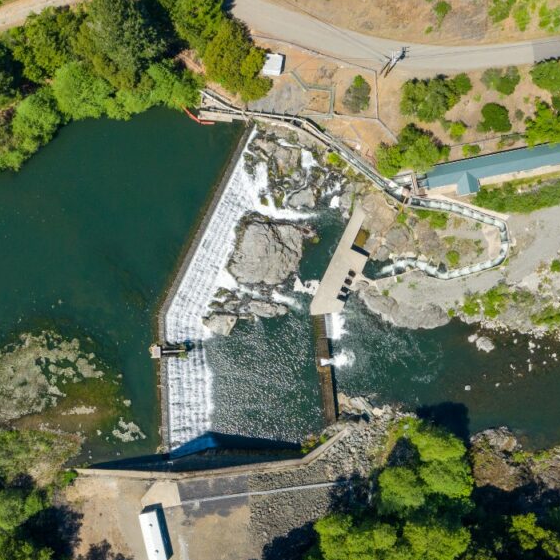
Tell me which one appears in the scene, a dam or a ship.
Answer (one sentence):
Visible in the photo is a dam.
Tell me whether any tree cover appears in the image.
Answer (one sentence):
Yes, some tree cover is visible.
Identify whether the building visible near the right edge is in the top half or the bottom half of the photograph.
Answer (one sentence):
Seen from above, the building visible near the right edge lies in the top half of the view.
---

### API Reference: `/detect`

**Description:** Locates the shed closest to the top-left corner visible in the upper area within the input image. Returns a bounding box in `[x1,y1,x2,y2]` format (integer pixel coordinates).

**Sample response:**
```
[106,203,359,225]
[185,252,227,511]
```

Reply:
[262,53,284,80]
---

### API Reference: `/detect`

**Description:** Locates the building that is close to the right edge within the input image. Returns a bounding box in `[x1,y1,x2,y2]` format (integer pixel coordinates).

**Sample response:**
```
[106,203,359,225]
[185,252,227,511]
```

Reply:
[426,144,560,198]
